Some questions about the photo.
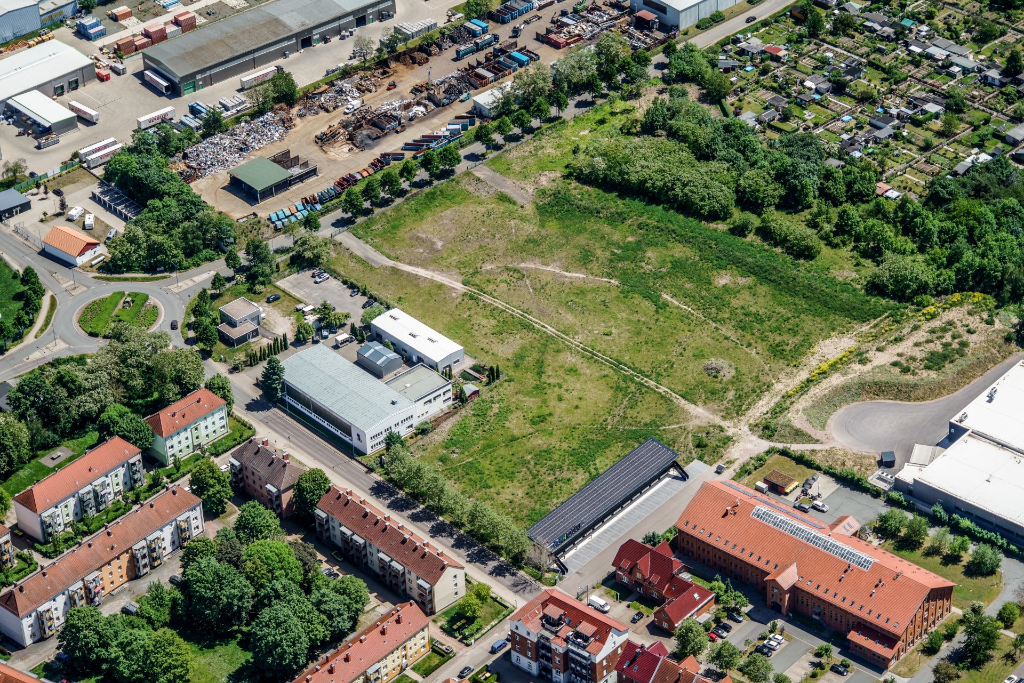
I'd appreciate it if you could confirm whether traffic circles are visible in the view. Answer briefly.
Yes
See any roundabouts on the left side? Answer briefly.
Yes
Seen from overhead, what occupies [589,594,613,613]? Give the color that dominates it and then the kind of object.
white vehicle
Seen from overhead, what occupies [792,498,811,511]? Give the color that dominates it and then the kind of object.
gray vehicle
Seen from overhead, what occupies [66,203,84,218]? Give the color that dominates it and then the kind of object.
white camper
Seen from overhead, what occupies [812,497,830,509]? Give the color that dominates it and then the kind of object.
white vehicle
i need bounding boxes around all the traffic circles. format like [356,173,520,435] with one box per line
[51,281,184,353]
